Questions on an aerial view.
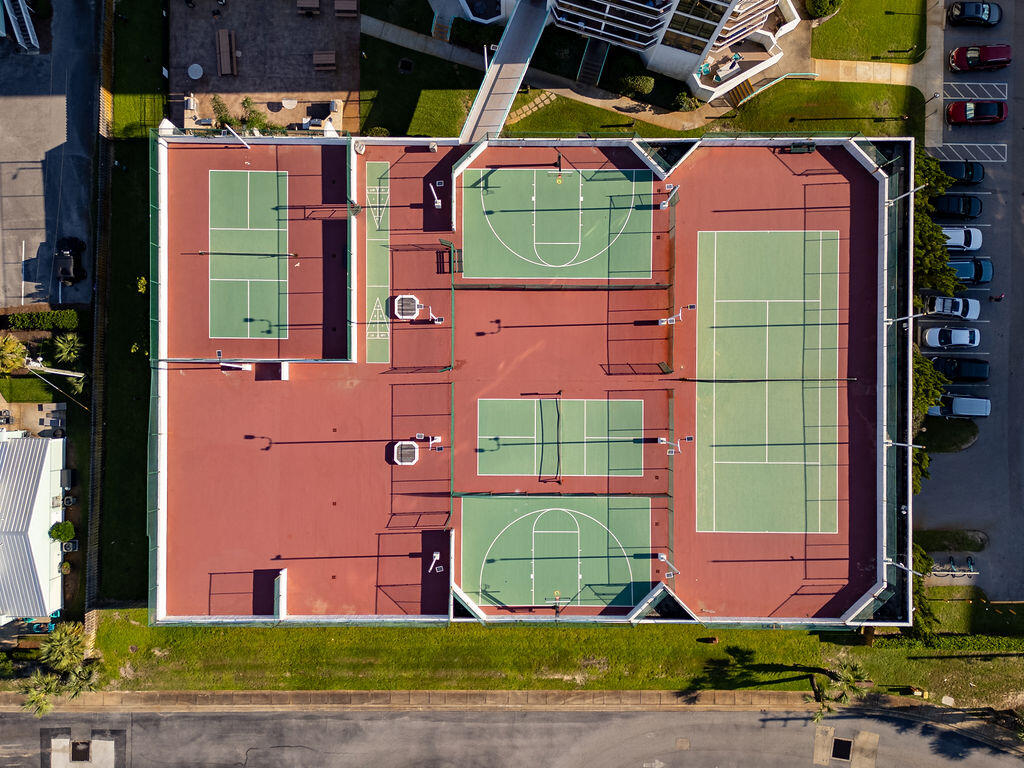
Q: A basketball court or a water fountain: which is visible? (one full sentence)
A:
It is a basketball court that can be seen here.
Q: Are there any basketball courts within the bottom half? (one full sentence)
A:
Yes, I can see a basketball court within the bottom half.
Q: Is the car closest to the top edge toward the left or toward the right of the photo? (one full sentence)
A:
It is on the right.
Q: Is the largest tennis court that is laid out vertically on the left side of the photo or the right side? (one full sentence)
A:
The largest tennis court that is laid out vertically sits on the right side.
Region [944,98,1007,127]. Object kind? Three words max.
car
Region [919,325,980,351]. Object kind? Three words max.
car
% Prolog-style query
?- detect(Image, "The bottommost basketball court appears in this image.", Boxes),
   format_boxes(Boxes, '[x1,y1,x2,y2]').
[461,496,652,606]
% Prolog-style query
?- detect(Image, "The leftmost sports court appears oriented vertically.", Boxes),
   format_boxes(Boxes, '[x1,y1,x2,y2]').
[209,169,289,339]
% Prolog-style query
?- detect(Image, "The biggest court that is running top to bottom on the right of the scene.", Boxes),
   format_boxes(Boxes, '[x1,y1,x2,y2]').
[696,230,840,534]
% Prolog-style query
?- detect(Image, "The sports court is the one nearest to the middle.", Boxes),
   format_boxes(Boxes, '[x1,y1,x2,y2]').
[477,398,644,477]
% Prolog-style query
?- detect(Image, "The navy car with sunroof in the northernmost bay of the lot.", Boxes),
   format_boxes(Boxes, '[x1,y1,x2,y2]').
[944,0,998,31]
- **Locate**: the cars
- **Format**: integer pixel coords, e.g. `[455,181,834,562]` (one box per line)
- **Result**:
[928,159,985,187]
[944,0,998,31]
[944,98,1007,127]
[919,325,980,351]
[946,42,1015,74]
[923,192,982,220]
[932,393,996,421]
[938,225,983,252]
[928,356,995,383]
[951,256,994,284]
[921,294,980,321]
